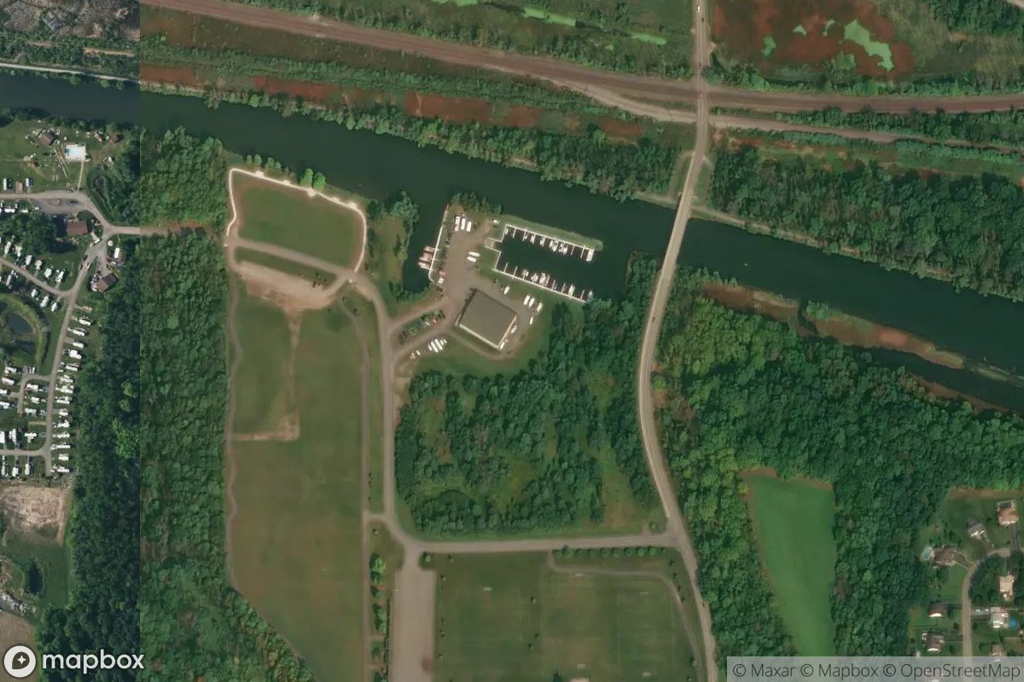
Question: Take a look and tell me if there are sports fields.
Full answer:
Yes, this view includes a sports field.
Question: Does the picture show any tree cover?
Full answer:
Yes, there's tree cover in this view.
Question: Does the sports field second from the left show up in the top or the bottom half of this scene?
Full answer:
It is in the bottom half that the sports field second from the left appears.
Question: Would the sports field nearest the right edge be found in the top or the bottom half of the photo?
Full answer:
It is in the bottom half that the sports field nearest the right edge appears.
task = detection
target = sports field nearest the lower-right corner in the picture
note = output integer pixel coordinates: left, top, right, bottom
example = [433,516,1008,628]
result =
[619,594,673,677]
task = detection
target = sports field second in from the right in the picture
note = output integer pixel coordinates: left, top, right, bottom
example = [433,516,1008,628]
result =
[555,577,604,667]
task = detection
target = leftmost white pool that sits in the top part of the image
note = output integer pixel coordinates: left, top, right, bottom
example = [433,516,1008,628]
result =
[65,144,86,161]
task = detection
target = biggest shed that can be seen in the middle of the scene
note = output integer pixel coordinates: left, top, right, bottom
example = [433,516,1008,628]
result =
[460,289,517,350]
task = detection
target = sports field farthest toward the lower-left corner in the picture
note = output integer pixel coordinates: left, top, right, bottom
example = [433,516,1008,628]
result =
[462,590,517,682]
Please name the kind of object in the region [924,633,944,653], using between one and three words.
house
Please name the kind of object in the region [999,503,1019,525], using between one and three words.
house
